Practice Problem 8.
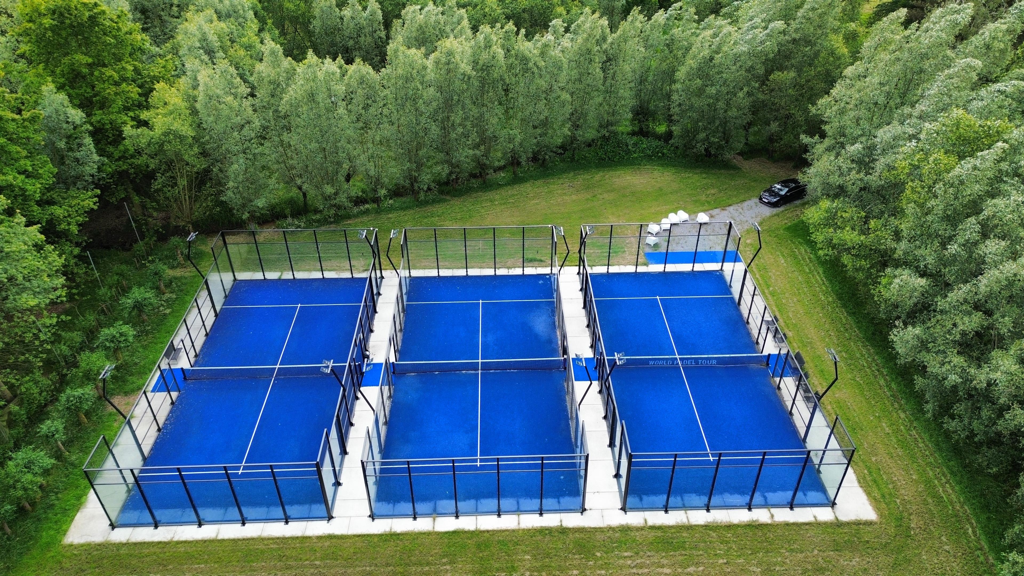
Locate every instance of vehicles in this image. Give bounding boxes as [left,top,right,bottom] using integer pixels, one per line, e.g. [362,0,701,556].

[760,176,810,206]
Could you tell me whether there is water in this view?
No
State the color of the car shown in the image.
black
